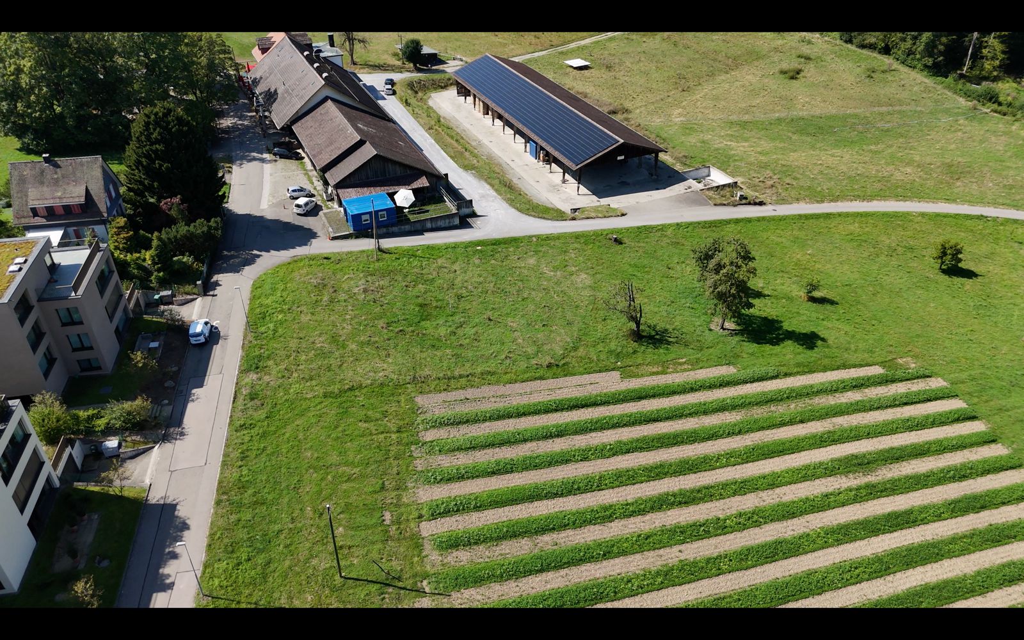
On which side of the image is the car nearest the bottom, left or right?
left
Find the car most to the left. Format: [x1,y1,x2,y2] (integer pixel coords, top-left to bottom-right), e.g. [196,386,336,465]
[189,316,213,341]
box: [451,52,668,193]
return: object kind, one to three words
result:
building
